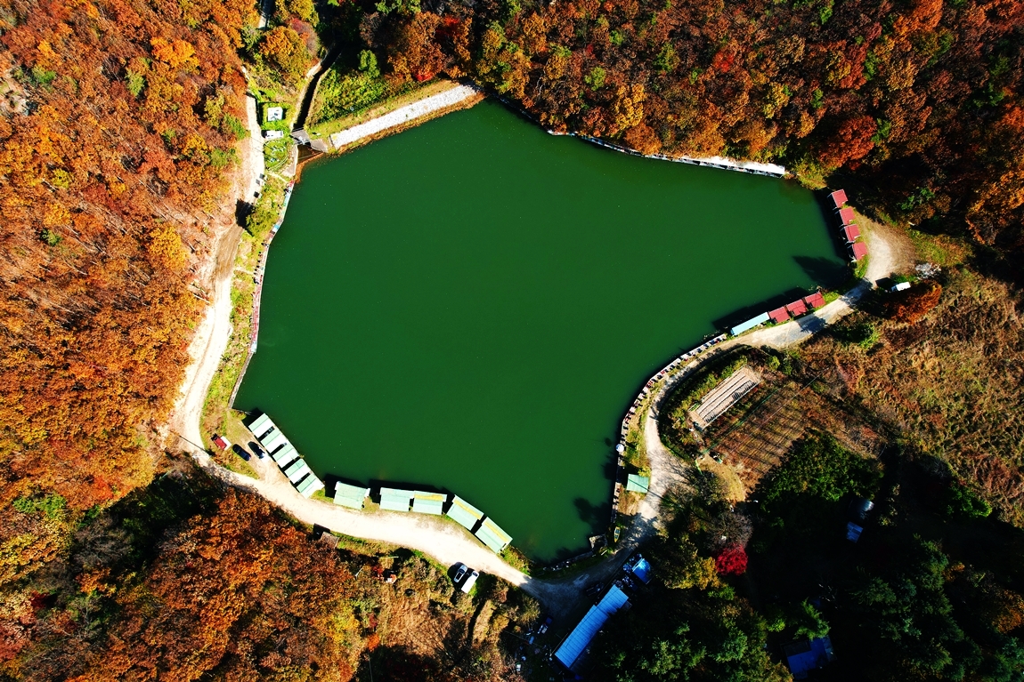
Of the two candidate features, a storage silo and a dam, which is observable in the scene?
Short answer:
dam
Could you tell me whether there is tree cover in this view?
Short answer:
Yes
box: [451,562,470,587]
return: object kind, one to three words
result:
car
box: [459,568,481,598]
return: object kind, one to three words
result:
vehicle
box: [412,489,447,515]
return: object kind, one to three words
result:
shed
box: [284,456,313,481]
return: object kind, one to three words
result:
shed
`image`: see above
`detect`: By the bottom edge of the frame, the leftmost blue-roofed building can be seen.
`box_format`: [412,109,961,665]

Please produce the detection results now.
[554,582,628,666]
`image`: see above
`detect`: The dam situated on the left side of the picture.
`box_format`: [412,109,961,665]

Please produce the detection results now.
[329,85,476,148]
